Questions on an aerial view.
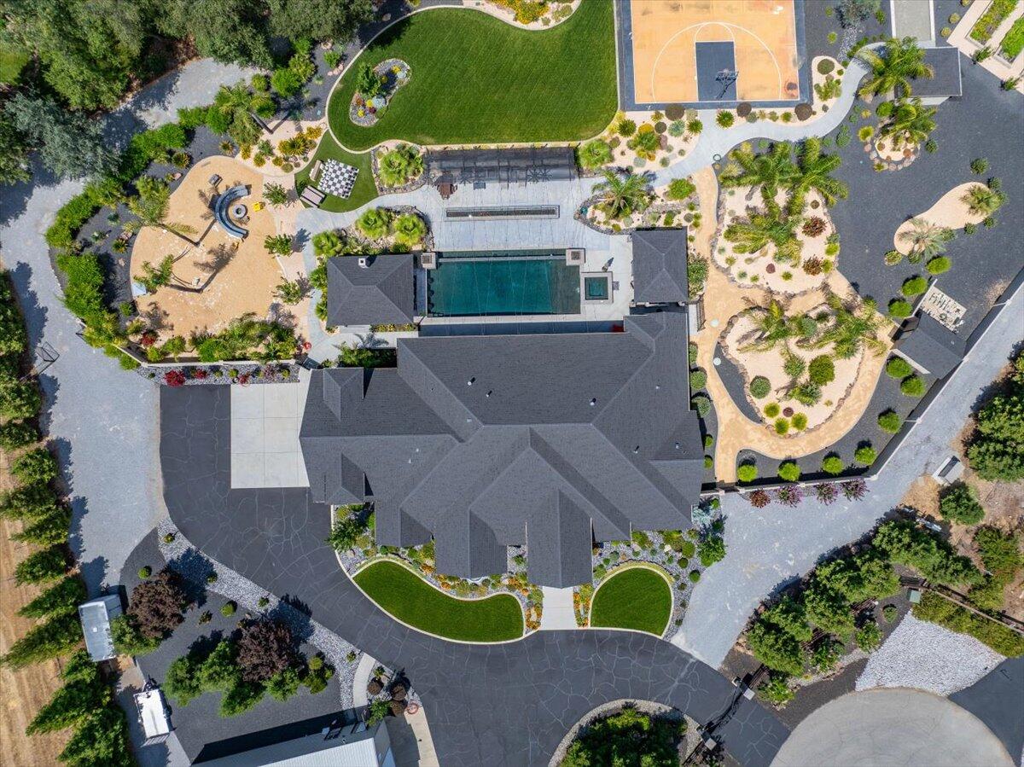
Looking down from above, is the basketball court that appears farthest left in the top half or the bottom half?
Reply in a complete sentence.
The top half of the photo is where the basketball court that appears farthest left is.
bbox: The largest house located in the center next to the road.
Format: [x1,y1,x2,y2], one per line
[299,313,703,588]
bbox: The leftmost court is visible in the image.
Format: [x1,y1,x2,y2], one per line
[616,0,812,111]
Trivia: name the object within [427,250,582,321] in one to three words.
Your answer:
swimming pool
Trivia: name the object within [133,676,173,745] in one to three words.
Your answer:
trailer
